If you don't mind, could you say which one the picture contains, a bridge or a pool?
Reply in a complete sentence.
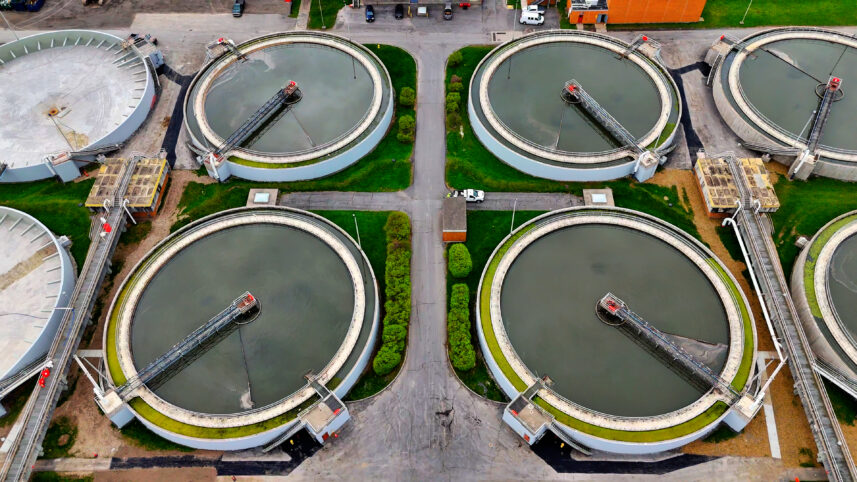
Looking from above, you can make out a bridge.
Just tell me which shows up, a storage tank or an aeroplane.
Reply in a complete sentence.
Visible in the photo is a storage tank.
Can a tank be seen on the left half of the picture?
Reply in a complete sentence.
Yes, there is a tank on the left half of the picture.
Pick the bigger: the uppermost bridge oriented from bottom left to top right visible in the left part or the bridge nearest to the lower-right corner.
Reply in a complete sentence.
The bridge nearest to the lower-right corner is bigger than the uppermost bridge oriented from bottom left to top right visible in the left part.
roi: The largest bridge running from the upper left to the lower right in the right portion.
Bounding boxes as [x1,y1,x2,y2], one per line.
[600,293,747,402]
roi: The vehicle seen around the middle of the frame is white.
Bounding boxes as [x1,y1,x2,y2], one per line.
[454,189,485,202]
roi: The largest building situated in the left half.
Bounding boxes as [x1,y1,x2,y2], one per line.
[84,144,175,220]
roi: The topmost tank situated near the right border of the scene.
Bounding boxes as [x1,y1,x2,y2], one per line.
[697,28,857,186]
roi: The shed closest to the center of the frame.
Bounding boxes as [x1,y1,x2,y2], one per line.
[442,198,467,239]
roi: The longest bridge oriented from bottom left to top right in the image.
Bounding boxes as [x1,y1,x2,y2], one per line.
[110,291,255,399]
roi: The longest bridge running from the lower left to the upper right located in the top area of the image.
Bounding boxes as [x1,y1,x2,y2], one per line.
[209,81,298,159]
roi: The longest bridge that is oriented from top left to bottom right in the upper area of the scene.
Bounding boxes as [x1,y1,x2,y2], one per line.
[564,80,654,158]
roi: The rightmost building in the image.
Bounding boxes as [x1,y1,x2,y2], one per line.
[689,143,781,221]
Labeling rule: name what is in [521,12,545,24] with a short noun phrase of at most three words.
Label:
vehicle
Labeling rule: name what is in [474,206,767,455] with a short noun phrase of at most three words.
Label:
storage tank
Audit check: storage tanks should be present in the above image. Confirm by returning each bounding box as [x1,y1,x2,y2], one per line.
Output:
[0,207,78,418]
[697,28,857,186]
[0,31,173,186]
[182,32,395,184]
[91,206,382,453]
[781,208,857,427]
[467,30,682,184]
[474,206,767,455]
